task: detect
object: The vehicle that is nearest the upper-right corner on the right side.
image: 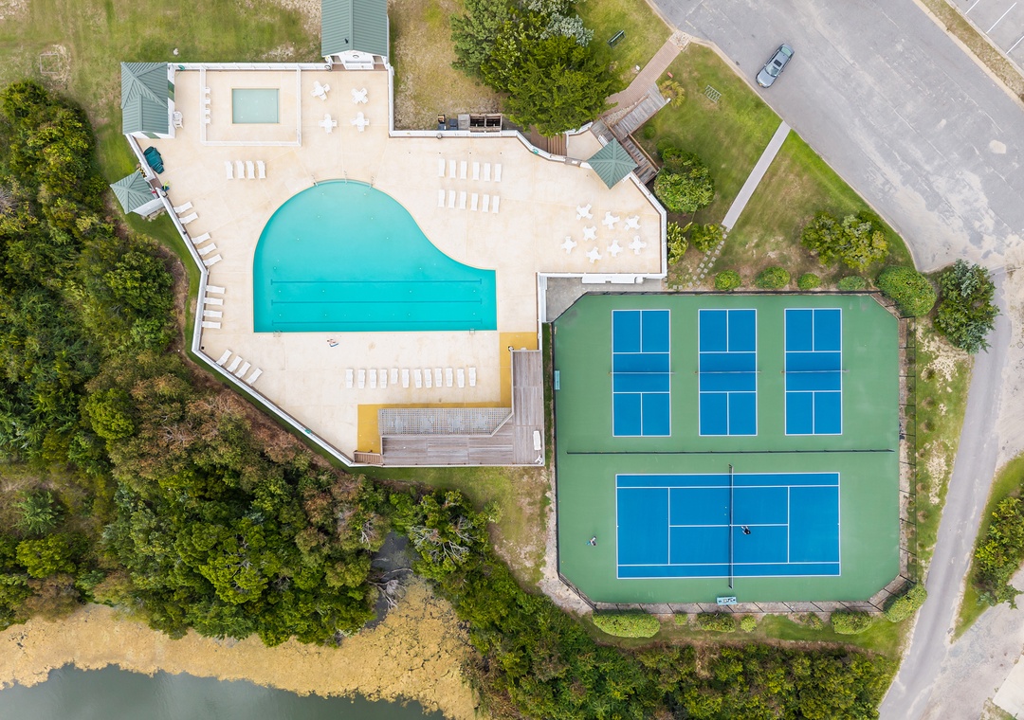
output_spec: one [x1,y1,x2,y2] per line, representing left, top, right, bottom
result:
[758,40,797,85]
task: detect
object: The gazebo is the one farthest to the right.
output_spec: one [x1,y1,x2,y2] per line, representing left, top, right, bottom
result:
[588,138,638,190]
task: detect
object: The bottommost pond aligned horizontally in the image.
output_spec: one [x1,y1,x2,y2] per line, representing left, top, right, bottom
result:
[0,532,464,720]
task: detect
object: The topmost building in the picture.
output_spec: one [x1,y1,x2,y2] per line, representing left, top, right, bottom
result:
[321,0,389,69]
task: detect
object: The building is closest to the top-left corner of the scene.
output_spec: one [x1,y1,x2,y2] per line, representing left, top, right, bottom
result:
[120,61,174,138]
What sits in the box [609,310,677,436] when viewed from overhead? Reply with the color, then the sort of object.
blue sports court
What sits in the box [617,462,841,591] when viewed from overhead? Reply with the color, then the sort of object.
blue tennis court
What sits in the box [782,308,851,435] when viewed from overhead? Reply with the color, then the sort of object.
blue sports court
